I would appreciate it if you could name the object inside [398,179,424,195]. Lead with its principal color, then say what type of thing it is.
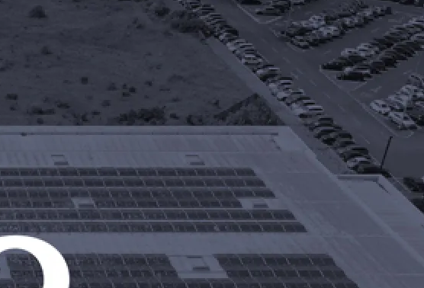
black car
